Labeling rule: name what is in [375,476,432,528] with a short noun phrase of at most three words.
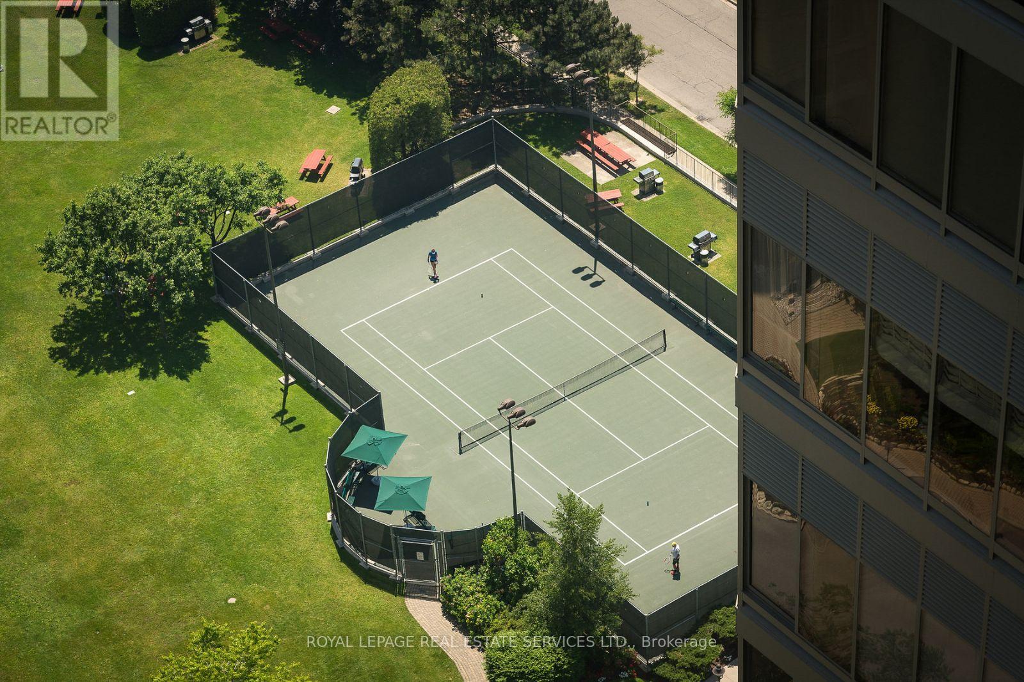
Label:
umbrella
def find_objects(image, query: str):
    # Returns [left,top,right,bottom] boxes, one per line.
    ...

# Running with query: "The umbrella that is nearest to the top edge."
[342,425,408,487]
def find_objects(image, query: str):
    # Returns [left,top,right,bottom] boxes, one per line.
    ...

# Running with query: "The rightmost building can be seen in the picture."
[733,0,1024,682]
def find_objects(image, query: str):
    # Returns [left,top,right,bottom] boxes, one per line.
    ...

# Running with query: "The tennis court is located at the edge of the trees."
[221,169,736,659]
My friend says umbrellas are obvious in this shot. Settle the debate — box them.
[342,425,408,487]
[375,476,432,528]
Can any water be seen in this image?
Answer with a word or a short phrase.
No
